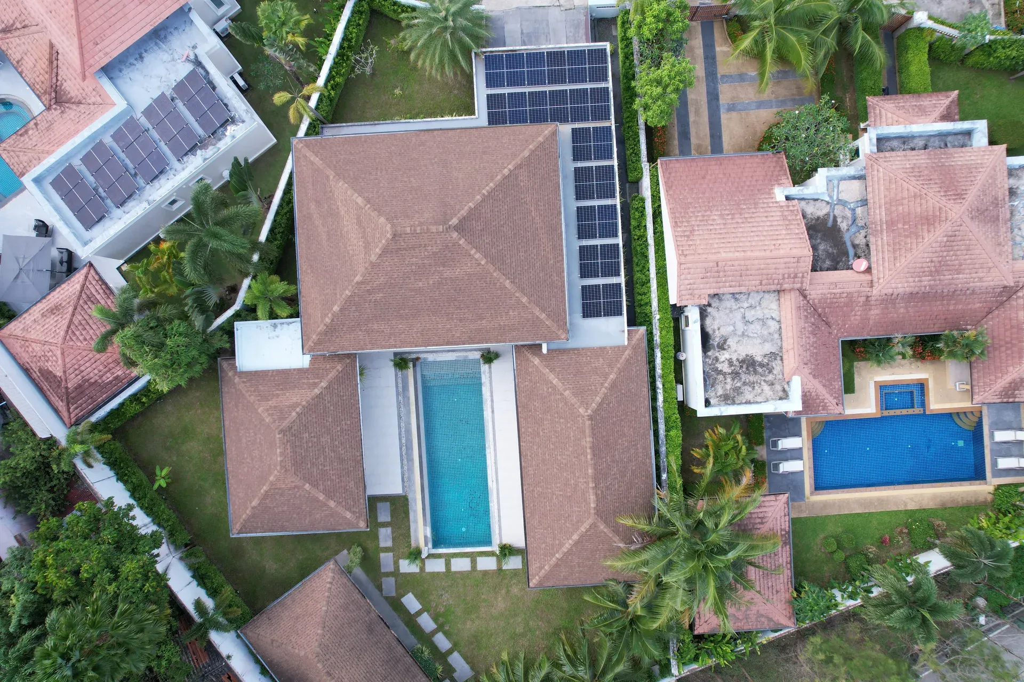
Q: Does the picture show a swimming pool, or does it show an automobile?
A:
swimming pool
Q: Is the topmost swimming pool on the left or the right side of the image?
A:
left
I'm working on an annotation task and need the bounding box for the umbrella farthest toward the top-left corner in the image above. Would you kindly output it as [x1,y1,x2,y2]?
[0,234,78,305]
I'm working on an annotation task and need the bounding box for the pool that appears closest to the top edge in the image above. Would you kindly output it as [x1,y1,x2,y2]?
[0,92,33,214]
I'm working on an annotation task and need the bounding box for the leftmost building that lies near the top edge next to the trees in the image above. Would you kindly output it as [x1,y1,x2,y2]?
[0,0,279,265]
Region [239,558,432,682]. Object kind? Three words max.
house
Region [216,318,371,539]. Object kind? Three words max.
house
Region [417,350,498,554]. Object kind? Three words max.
swimming pool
